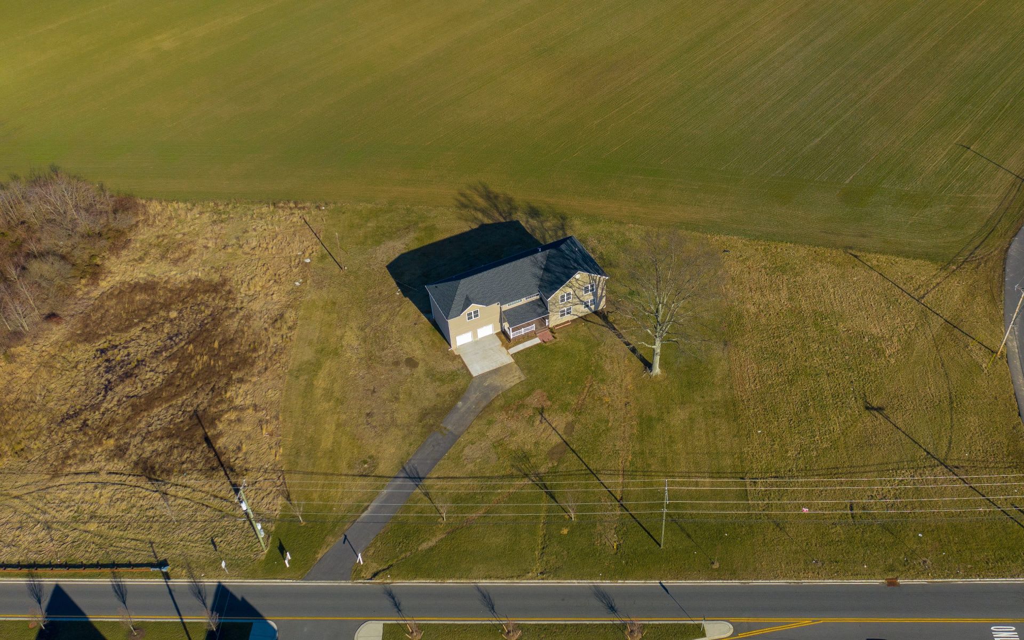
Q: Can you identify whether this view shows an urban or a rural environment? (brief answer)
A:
rural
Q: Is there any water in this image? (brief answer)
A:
No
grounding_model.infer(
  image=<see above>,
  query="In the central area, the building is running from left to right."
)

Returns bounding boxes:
[425,235,610,352]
